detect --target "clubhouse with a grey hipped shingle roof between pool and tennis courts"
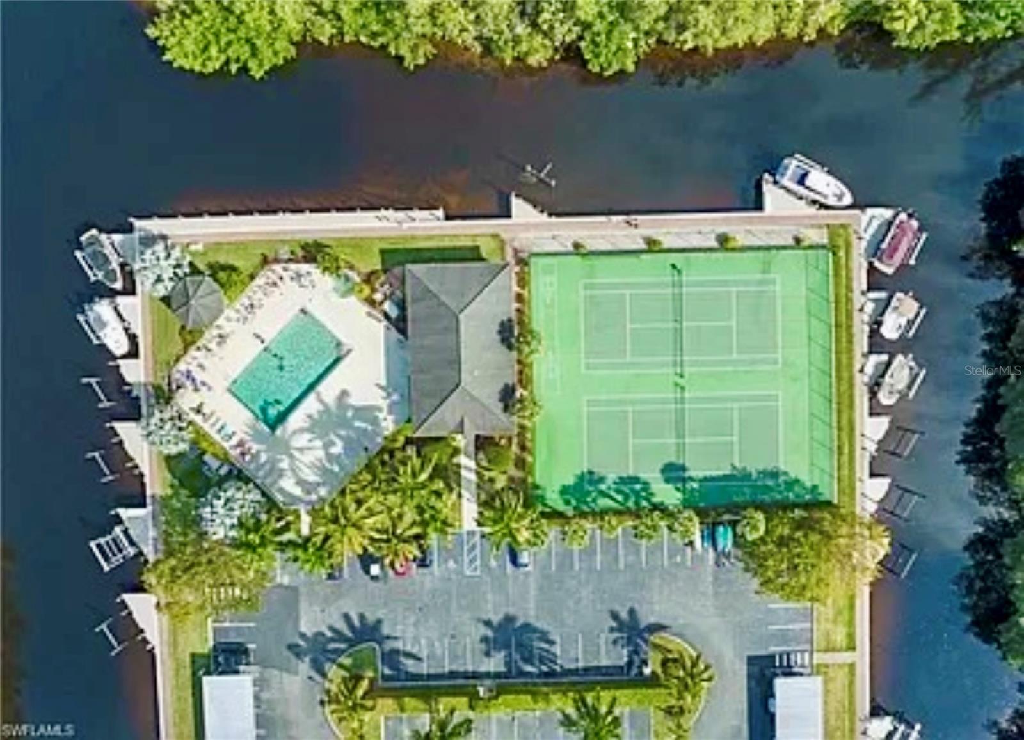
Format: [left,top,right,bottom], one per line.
[404,261,516,455]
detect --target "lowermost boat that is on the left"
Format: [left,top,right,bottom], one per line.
[86,293,128,356]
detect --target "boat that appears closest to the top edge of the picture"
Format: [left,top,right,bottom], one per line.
[771,160,854,205]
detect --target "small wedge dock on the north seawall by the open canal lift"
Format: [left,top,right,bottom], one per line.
[511,189,551,220]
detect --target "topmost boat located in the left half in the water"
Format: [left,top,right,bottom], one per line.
[81,227,123,288]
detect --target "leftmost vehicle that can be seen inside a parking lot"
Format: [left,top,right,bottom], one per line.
[212,650,253,672]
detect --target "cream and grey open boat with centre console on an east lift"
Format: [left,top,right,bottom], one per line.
[879,351,916,405]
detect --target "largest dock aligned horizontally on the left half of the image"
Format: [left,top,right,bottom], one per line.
[128,205,444,234]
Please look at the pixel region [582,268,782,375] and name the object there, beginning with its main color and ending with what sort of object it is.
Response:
green tennis court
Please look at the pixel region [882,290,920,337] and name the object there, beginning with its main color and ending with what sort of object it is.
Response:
white boat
